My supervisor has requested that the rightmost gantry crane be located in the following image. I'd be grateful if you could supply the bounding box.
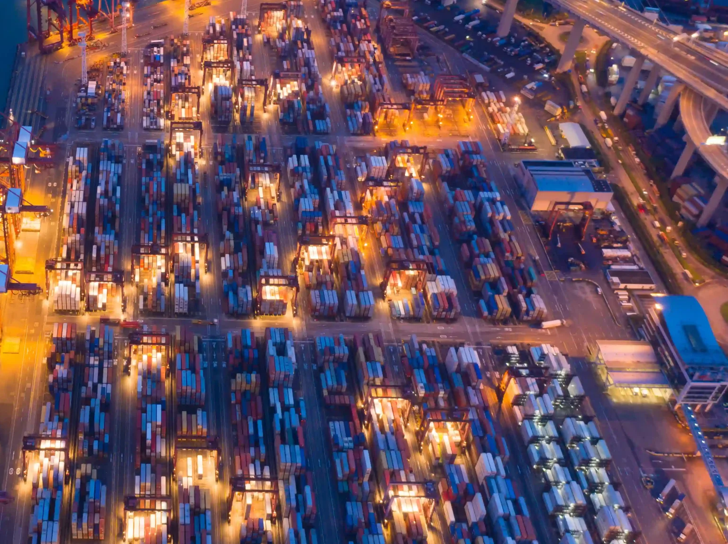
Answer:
[544,199,593,235]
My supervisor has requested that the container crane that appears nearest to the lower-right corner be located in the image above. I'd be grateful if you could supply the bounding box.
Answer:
[497,364,555,403]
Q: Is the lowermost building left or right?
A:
right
